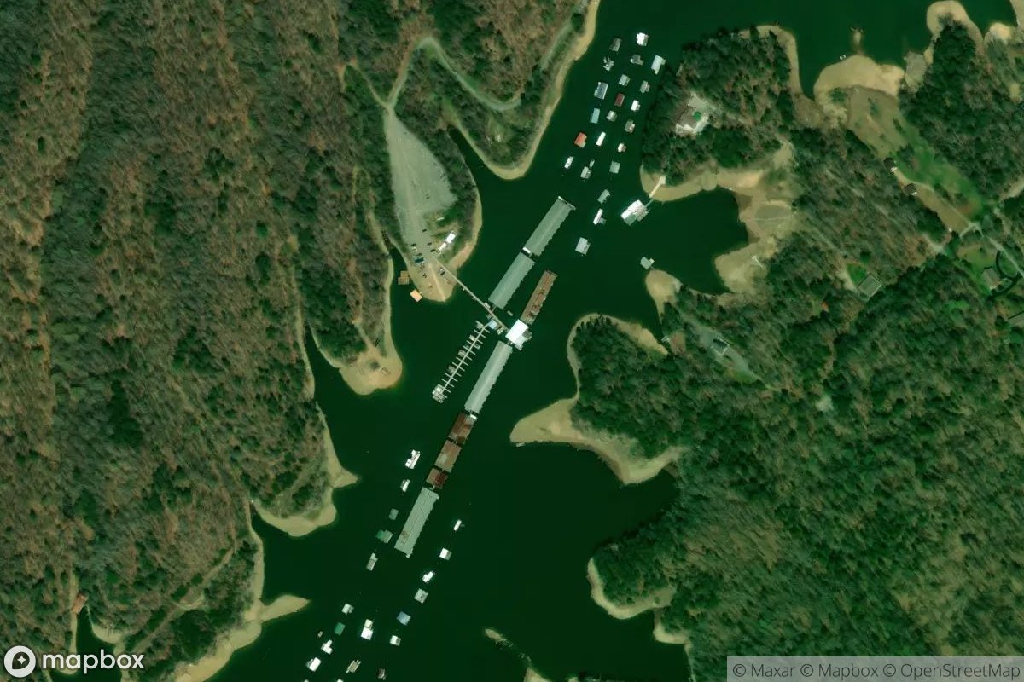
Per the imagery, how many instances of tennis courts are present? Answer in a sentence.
The count of tennis courts is 0.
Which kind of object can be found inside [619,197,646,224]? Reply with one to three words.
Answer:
building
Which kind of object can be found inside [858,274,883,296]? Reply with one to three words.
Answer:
house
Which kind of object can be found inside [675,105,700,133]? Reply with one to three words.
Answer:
house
